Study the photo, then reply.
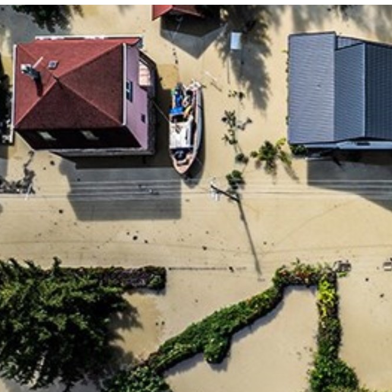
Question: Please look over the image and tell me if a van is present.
No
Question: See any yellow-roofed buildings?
No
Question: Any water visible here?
Yes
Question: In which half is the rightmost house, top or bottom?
top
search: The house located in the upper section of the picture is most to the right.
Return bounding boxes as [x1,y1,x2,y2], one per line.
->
[288,32,392,161]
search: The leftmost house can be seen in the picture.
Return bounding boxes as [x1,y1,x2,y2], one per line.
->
[13,37,157,157]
